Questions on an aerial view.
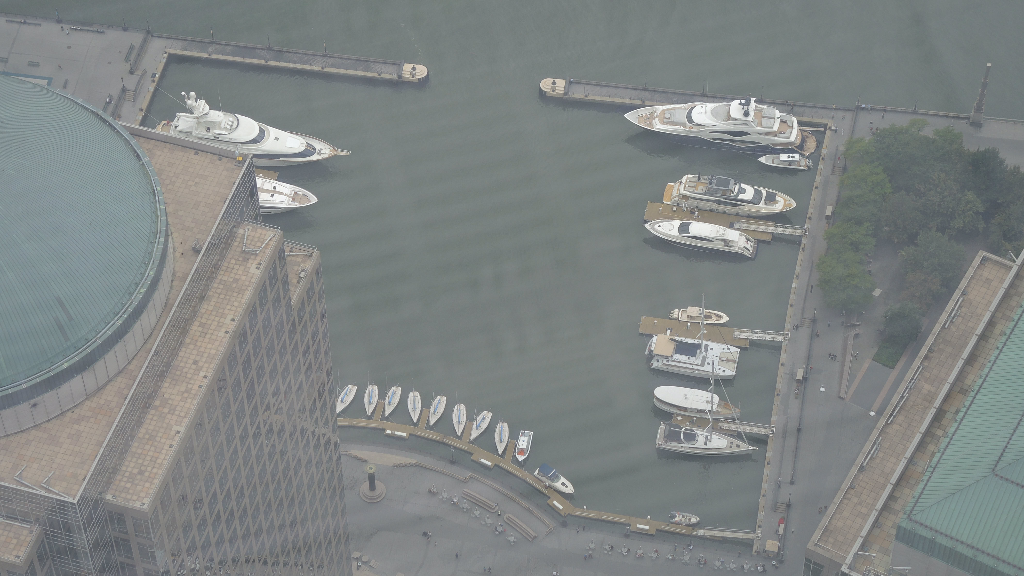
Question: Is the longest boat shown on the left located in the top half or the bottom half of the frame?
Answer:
top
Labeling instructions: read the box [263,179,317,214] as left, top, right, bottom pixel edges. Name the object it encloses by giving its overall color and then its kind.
white boat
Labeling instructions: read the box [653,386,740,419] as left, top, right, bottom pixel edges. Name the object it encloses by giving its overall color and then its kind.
white boat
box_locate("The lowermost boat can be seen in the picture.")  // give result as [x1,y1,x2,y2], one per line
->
[668,511,701,524]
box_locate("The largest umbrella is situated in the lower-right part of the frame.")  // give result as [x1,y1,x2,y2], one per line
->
[764,539,781,554]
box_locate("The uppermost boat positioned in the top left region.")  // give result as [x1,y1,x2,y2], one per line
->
[158,88,350,168]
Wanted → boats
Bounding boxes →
[472,406,493,440]
[758,153,811,172]
[453,399,467,436]
[364,377,379,416]
[644,293,740,380]
[158,88,350,168]
[532,466,573,495]
[495,415,510,455]
[385,379,402,416]
[645,221,757,258]
[653,386,740,419]
[408,384,422,423]
[263,179,317,214]
[624,92,834,158]
[668,511,701,524]
[430,391,447,426]
[514,431,532,463]
[663,170,796,222]
[337,376,356,414]
[657,360,758,455]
